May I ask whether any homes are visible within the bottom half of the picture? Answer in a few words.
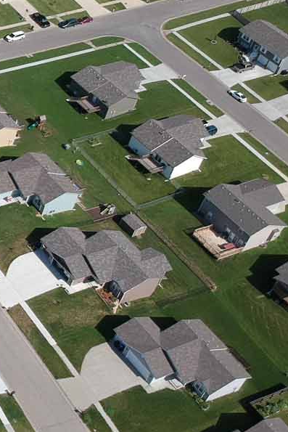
Yes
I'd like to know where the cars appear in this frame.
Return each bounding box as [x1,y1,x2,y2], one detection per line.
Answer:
[232,59,255,73]
[29,12,50,28]
[202,124,223,136]
[3,28,25,42]
[225,88,249,104]
[58,16,78,29]
[78,15,96,26]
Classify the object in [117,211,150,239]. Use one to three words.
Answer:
shed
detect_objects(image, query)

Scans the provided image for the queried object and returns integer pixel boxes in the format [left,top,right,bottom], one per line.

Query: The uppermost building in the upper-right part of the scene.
[227,15,288,78]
